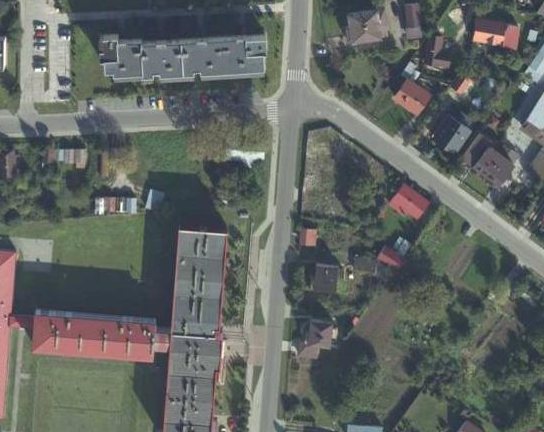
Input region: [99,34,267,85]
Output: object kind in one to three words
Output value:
building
